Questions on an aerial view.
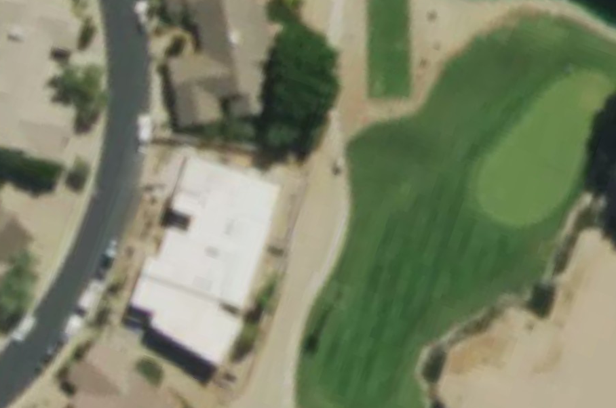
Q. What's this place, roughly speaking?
residential area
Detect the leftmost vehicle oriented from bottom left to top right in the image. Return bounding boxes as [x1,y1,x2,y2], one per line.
[15,317,33,340]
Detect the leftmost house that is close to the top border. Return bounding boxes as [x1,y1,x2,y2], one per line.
[0,0,84,158]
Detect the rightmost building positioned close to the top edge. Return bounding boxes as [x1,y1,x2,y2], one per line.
[163,0,266,127]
